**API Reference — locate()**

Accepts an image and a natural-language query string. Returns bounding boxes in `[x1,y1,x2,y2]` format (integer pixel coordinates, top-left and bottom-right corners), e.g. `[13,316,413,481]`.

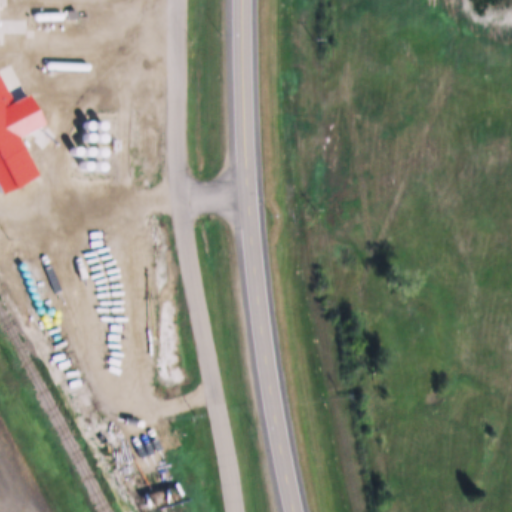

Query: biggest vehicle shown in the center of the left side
[40,252,61,298]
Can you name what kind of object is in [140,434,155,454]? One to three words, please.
vehicle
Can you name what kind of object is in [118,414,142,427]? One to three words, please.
vehicle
